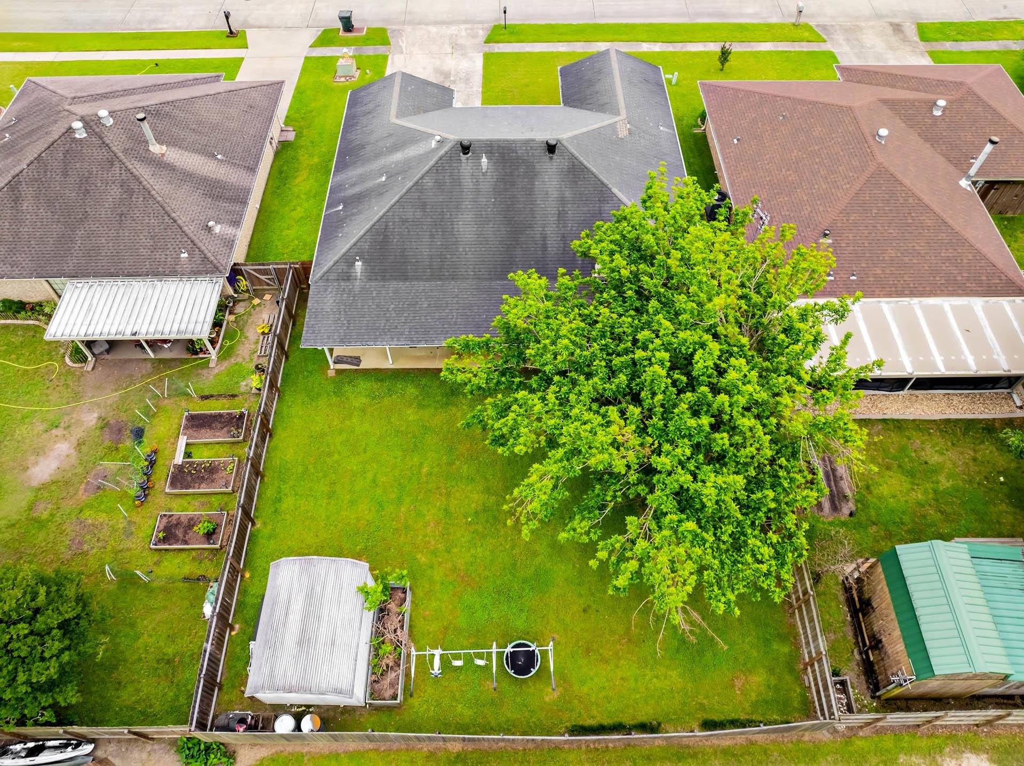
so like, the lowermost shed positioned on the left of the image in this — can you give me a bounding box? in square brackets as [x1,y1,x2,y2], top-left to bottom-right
[244,556,374,707]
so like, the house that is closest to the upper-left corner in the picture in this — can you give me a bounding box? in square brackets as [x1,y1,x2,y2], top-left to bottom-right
[0,73,290,317]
